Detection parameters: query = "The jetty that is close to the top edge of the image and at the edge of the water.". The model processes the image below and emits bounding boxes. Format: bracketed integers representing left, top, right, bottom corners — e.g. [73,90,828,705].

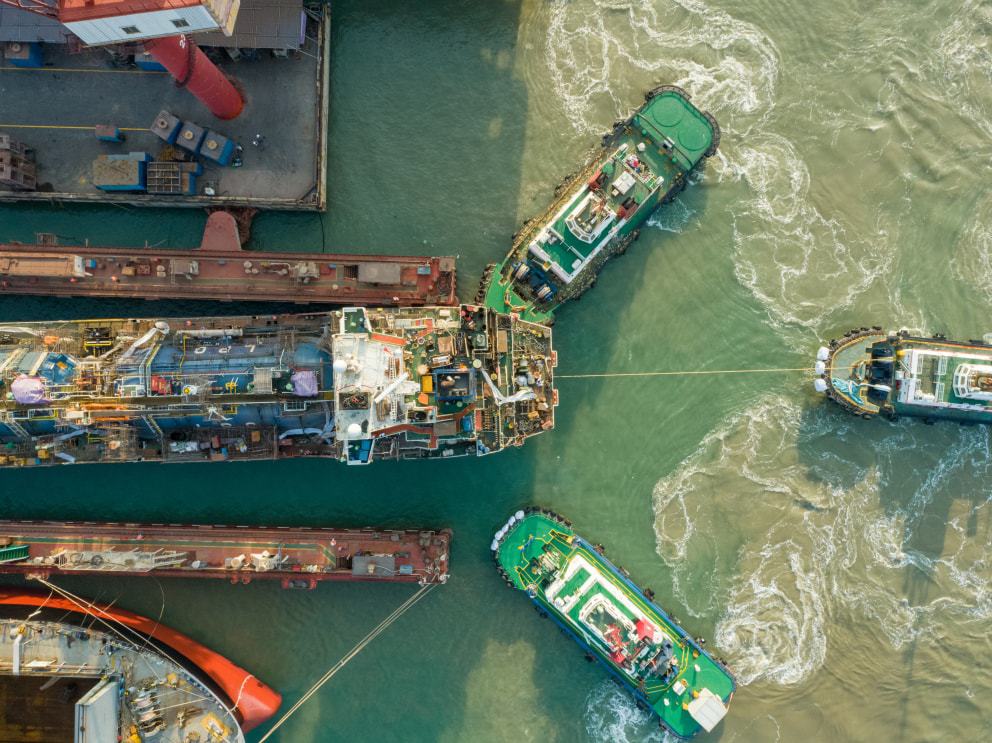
[0,0,330,207]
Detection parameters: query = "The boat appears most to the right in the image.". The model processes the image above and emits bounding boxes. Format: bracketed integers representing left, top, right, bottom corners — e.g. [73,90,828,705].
[815,332,992,425]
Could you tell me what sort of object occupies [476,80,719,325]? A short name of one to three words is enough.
boat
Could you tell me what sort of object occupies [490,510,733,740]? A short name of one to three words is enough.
boat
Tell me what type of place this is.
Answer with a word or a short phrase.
port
